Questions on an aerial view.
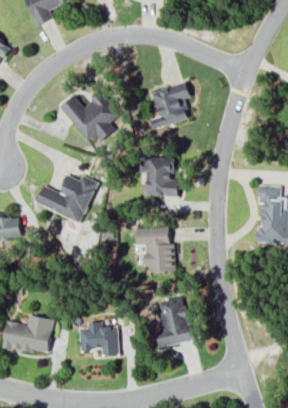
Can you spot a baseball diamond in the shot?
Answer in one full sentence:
No, I find no baseball diamond anywhere in the image.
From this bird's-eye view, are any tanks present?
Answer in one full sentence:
No, there appears to be no tank in this shot.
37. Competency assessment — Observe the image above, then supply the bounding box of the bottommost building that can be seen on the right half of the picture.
[156,296,194,348]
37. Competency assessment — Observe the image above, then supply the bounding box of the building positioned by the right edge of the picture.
[256,186,288,244]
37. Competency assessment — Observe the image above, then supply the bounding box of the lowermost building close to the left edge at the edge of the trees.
[2,316,54,355]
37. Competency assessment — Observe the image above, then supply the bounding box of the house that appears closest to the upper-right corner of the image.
[150,82,192,130]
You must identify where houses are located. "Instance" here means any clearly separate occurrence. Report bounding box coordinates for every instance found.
[62,92,118,138]
[36,173,100,222]
[150,82,192,130]
[0,214,19,248]
[156,296,194,348]
[2,316,54,355]
[26,0,68,26]
[256,186,288,244]
[135,228,176,274]
[80,322,119,360]
[140,158,178,197]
